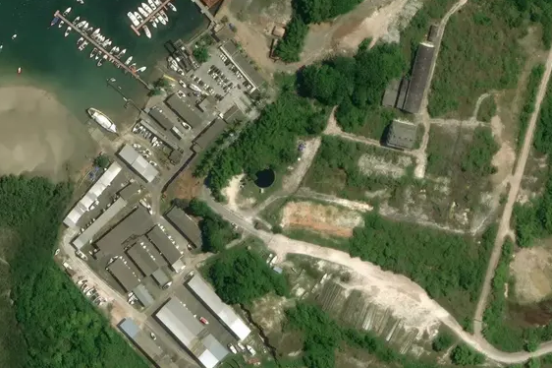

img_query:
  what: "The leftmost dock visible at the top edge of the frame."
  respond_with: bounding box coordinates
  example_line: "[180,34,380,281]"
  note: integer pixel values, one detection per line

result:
[53,8,137,78]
